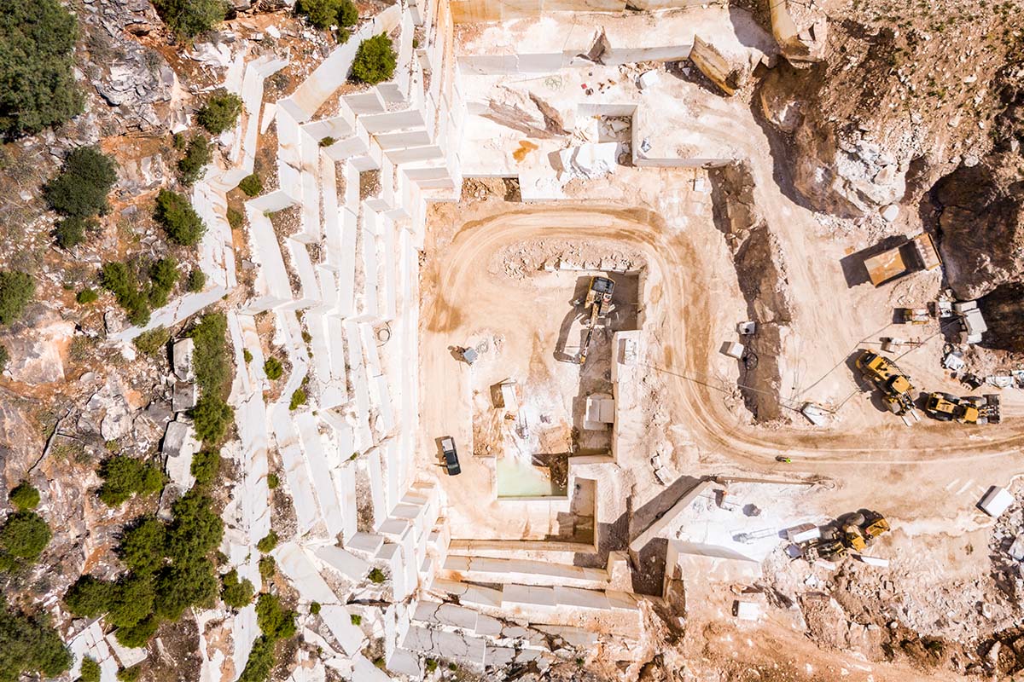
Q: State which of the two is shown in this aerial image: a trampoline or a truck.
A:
truck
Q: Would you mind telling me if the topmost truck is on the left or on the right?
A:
right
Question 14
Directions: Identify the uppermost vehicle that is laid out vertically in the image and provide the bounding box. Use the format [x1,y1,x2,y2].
[582,273,617,358]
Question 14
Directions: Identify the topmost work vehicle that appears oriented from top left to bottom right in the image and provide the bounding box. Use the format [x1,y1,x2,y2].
[862,357,918,426]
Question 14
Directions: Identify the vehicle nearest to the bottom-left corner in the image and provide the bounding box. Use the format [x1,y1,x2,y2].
[438,437,460,478]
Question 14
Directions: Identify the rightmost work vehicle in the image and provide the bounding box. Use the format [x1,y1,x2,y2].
[926,394,999,429]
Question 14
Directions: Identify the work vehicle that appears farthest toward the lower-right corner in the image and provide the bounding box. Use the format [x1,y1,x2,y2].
[798,513,883,557]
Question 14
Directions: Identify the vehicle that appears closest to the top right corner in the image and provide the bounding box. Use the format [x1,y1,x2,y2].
[857,234,939,287]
